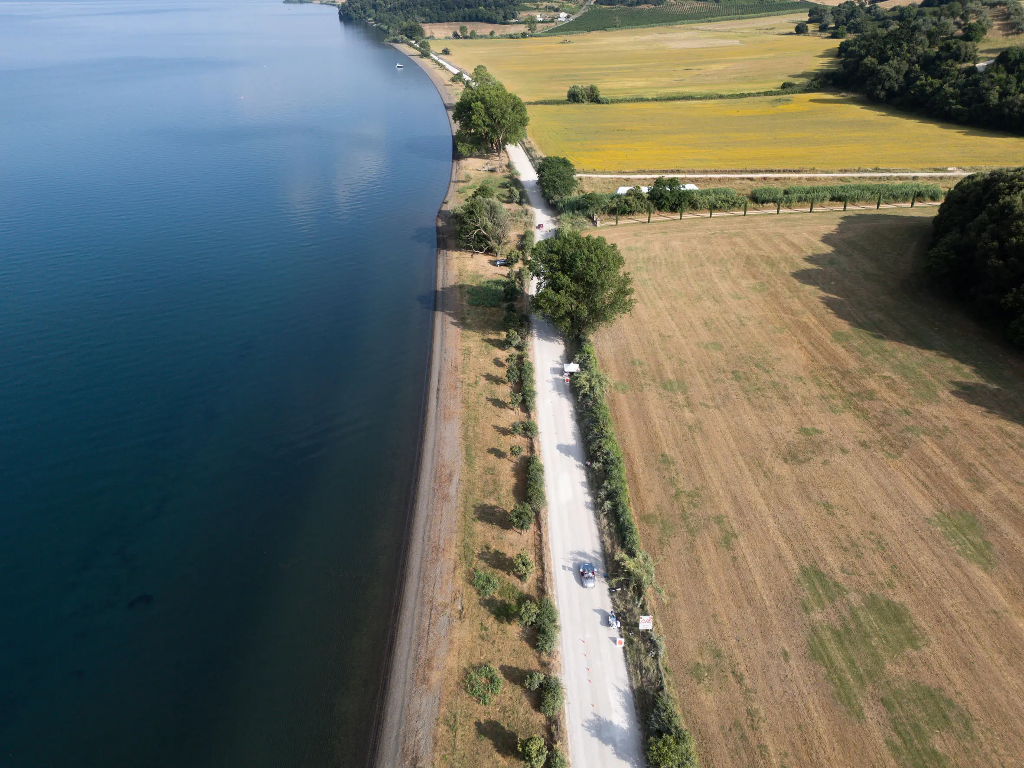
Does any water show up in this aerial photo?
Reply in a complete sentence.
Yes, water shows up in the scene.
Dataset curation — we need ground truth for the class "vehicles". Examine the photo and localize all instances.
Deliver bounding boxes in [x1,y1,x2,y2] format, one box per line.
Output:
[537,223,544,230]
[492,258,514,267]
[580,560,598,591]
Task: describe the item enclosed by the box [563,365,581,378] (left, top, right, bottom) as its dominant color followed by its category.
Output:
white gazebo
